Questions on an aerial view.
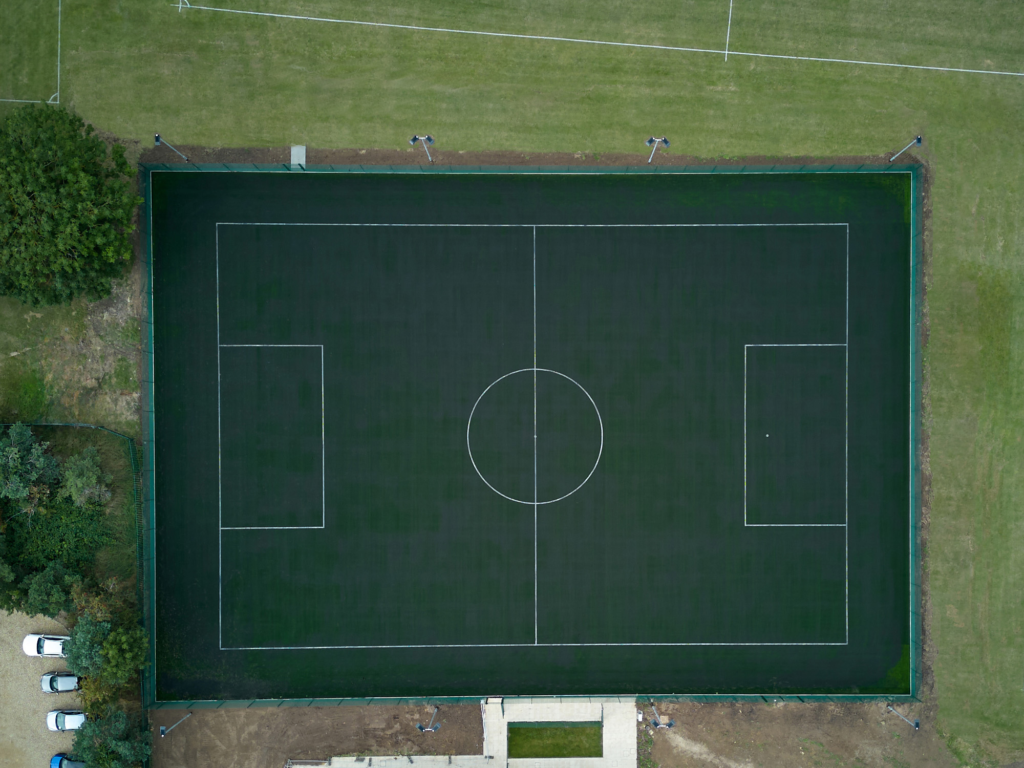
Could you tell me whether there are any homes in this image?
No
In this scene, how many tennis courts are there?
0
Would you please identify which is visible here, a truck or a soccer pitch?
soccer pitch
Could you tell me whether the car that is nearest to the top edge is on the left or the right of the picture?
left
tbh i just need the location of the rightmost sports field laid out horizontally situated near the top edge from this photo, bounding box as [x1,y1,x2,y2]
[170,0,1024,75]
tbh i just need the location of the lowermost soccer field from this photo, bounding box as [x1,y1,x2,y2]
[151,171,912,702]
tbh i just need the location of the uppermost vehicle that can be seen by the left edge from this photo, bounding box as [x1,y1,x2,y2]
[23,633,73,659]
